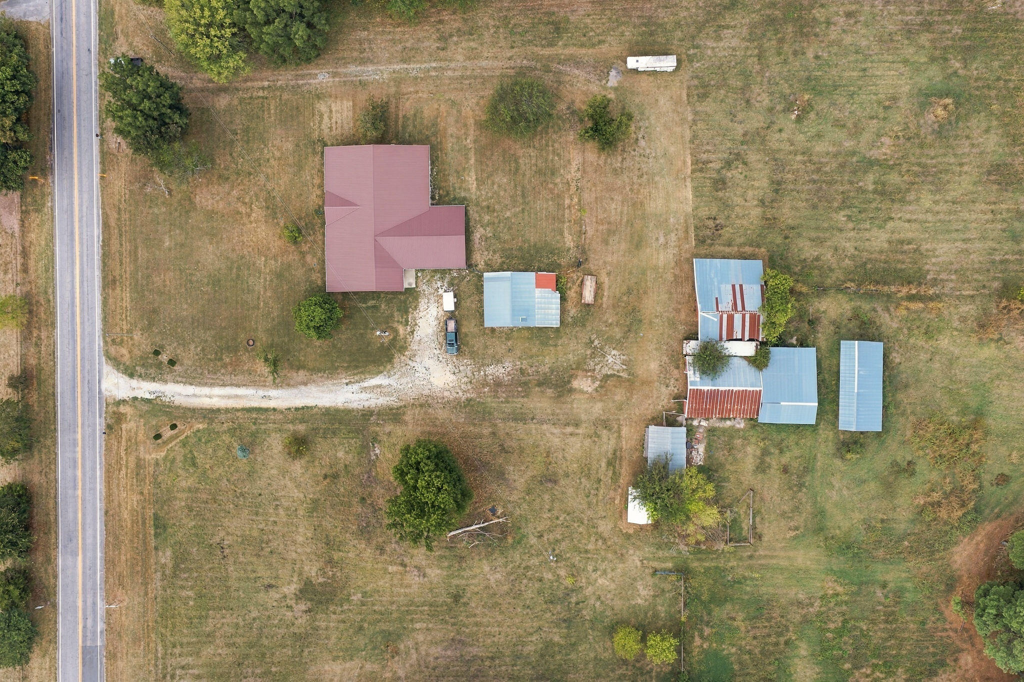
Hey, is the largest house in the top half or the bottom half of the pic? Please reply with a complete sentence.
The top half of the photo is where the largest house is.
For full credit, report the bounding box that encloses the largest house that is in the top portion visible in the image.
[324,144,467,293]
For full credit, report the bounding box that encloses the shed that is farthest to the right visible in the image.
[838,340,884,432]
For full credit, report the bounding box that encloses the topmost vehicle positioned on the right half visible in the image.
[626,55,676,73]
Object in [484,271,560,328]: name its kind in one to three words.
building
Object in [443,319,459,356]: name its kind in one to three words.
vehicle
